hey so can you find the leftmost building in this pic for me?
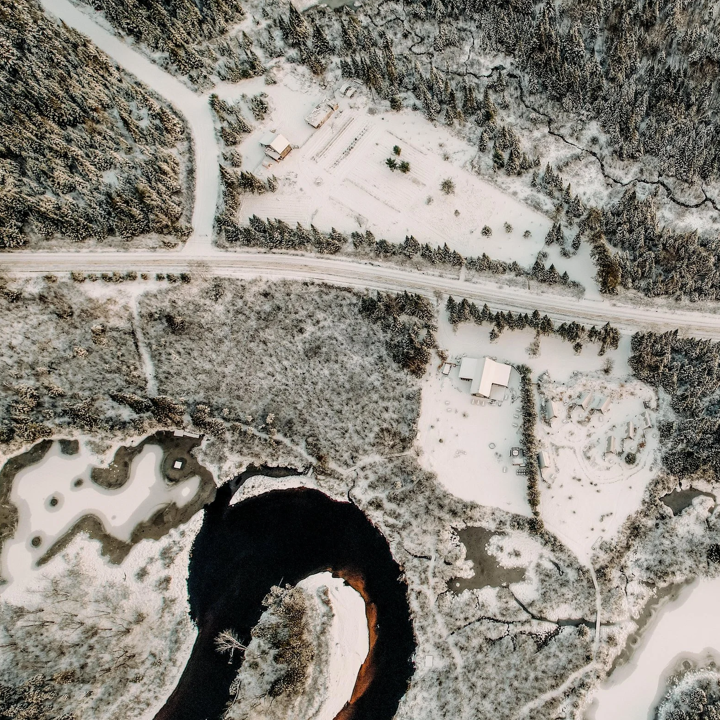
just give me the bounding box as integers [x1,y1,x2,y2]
[261,130,292,163]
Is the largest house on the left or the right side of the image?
right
